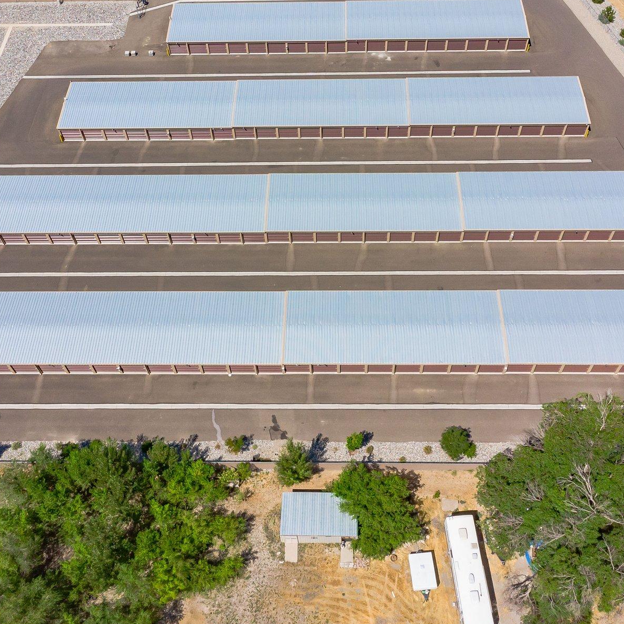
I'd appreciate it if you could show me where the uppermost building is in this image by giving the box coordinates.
[166,0,531,56]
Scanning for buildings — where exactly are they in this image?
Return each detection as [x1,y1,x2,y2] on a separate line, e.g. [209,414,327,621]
[280,492,358,545]
[166,0,531,56]
[0,171,624,246]
[56,76,593,142]
[0,289,624,376]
